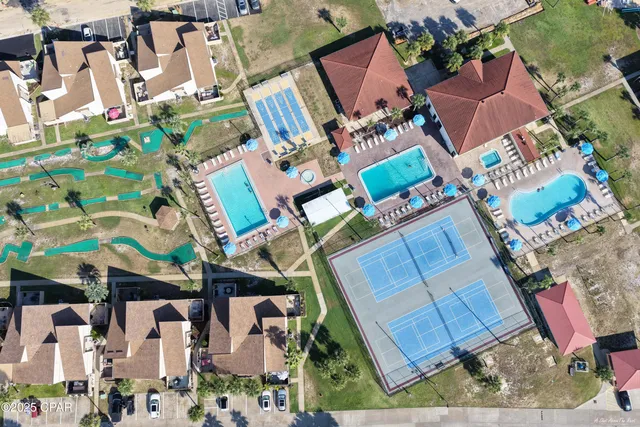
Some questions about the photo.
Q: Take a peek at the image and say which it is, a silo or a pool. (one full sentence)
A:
It is a pool that can be seen here.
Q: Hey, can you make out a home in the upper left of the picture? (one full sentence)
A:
Yes, a home appears in the upper left of the picture.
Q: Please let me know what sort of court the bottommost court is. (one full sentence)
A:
From above, the bottommost court can be identified as a tennis court.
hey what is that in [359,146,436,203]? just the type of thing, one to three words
swimming pool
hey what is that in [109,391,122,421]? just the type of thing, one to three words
vehicle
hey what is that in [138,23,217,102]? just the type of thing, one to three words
house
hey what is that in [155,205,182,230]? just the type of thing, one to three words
gazebo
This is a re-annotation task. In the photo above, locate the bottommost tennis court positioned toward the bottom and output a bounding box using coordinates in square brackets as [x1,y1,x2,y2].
[378,278,513,369]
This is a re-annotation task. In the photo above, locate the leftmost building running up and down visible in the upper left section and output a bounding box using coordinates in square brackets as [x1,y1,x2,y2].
[0,62,34,139]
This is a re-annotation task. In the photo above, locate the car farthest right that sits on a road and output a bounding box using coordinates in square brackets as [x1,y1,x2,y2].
[616,391,631,411]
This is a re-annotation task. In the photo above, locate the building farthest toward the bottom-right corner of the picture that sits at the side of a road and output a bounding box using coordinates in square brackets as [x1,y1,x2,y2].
[609,348,640,392]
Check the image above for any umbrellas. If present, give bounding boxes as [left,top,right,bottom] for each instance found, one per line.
[595,169,608,182]
[246,139,258,151]
[338,153,350,165]
[362,204,375,216]
[286,166,299,178]
[471,174,484,186]
[413,114,425,126]
[566,218,581,232]
[409,196,423,209]
[444,183,456,195]
[488,196,500,208]
[277,216,289,228]
[385,129,398,141]
[509,239,522,251]
[581,143,593,154]
[224,243,236,254]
